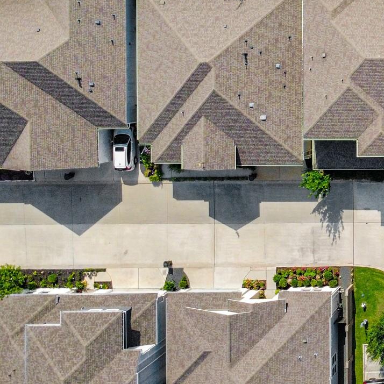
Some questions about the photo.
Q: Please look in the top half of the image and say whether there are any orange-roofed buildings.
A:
No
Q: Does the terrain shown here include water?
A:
No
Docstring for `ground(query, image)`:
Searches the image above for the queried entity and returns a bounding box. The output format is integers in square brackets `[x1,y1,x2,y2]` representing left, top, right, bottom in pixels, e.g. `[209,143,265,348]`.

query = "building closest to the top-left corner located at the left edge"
[0,0,137,170]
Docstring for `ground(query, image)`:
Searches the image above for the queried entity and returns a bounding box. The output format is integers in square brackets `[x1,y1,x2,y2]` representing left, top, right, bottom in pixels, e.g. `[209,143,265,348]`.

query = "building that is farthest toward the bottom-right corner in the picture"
[166,285,333,384]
